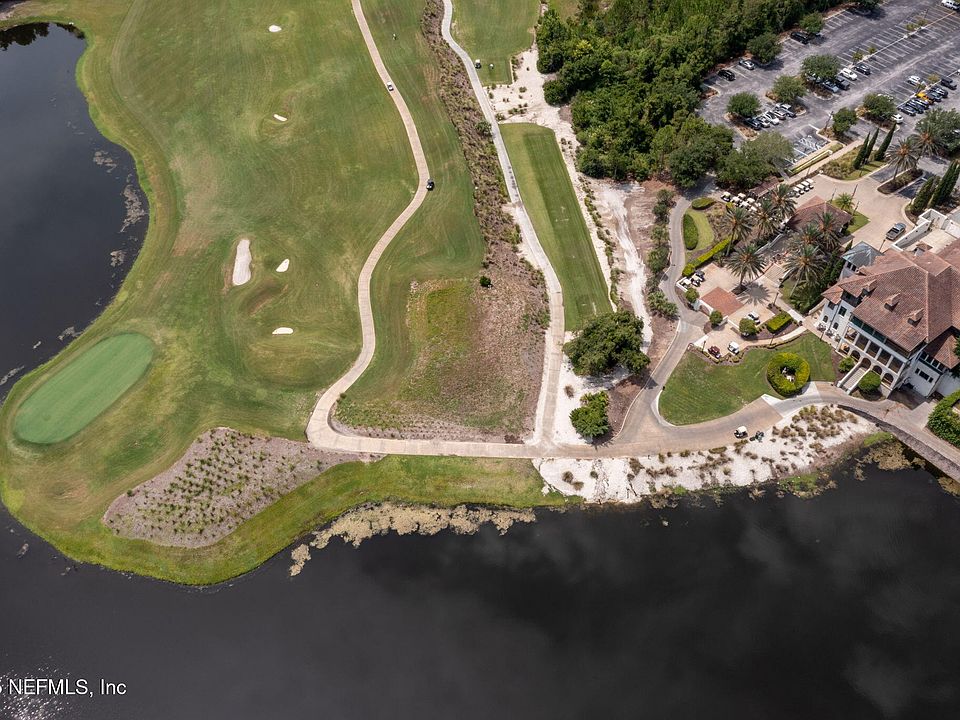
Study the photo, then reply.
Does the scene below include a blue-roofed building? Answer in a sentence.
No, no blue-roofed building is visible in the scene.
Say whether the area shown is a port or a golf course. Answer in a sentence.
The area seen from above is a golf course.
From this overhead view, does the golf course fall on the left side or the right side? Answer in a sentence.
The golf course sits on the left side.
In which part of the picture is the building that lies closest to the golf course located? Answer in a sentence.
Look in the right portion of the view to spot the building that lies closest to the golf course.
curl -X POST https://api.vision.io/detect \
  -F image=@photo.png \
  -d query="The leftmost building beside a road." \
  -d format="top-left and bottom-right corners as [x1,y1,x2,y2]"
[697,286,744,328]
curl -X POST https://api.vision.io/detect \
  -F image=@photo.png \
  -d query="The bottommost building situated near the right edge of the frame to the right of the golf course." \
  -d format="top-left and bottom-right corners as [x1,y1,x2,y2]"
[818,241,960,398]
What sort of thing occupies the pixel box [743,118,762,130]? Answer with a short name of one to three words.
vehicle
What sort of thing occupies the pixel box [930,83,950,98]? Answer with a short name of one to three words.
car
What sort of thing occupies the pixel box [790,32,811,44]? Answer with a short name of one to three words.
vehicle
